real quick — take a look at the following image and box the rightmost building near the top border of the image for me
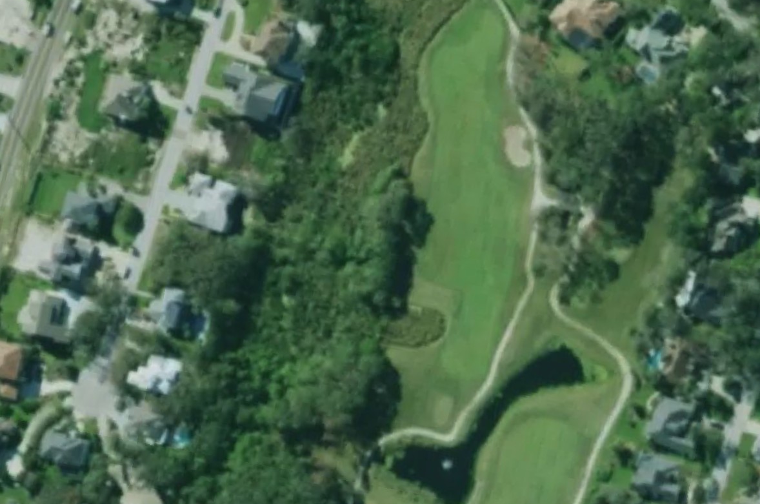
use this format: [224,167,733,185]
[625,8,689,51]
